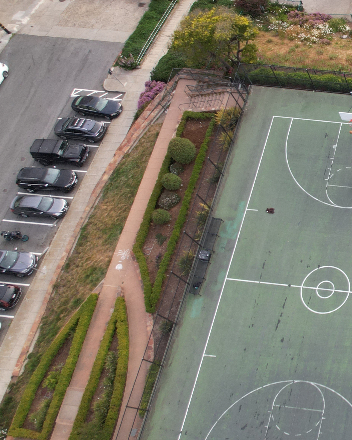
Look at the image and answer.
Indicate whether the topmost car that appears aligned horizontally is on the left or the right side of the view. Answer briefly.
left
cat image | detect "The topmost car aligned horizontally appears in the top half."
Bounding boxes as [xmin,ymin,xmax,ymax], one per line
[70,95,125,121]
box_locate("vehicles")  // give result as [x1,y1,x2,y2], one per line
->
[0,285,24,313]
[0,230,31,242]
[0,60,12,86]
[14,165,79,195]
[0,249,40,278]
[70,95,125,121]
[10,193,71,222]
[30,138,91,168]
[53,116,109,143]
